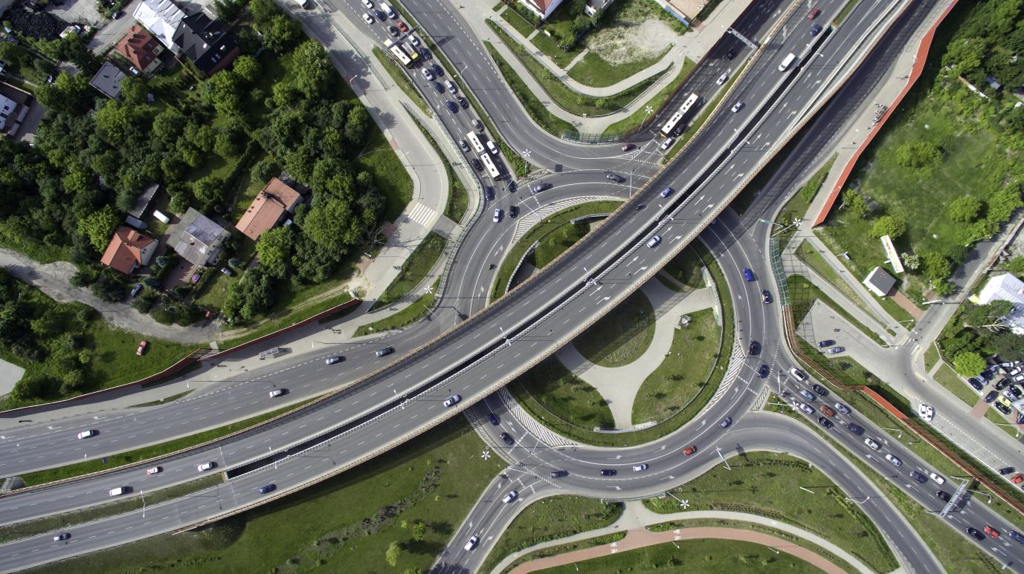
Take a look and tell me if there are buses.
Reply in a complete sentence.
Yes, there is a bus in the image.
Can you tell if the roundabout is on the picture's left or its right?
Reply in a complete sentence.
It is on the right.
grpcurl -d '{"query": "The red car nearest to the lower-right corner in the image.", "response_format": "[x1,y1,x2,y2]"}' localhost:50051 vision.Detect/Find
[985,526,1001,539]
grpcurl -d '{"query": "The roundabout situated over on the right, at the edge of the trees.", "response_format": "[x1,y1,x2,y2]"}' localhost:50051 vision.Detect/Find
[442,130,913,574]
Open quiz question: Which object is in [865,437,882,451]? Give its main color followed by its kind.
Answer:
white car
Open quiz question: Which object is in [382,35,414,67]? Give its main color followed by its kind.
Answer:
white bus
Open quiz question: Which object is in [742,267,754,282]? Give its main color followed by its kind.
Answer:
blue vehicle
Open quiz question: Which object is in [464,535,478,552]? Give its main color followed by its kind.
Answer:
white car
